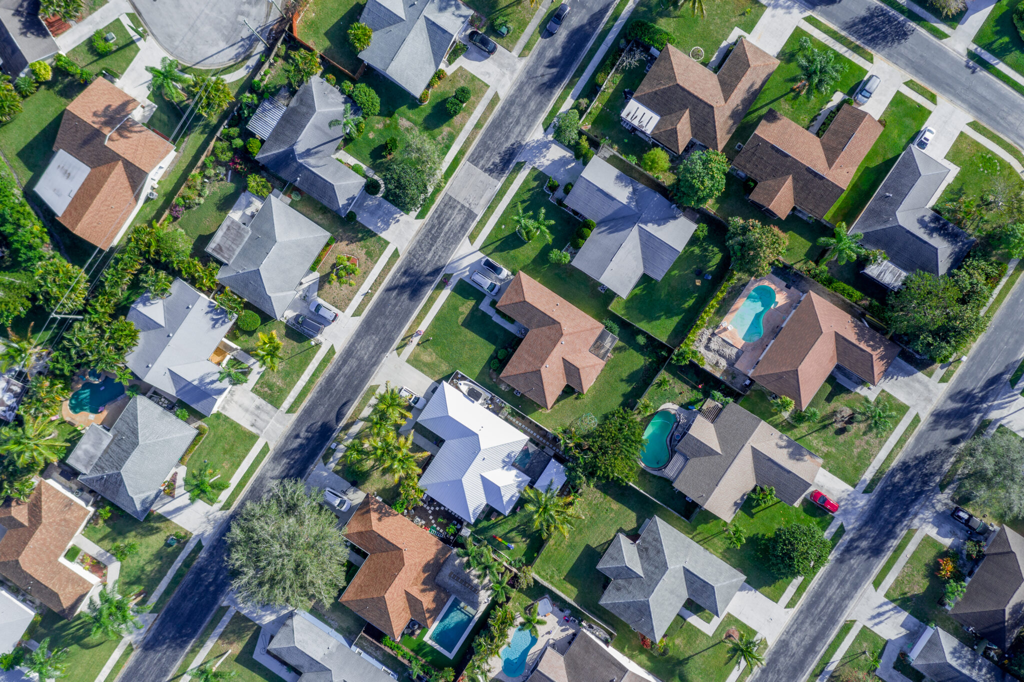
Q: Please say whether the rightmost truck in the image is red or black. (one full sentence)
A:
The rightmost truck looks black in the image.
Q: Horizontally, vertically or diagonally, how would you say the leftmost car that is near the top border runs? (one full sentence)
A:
From this overhead view, the leftmost car that is near the top border appears to run diagonally.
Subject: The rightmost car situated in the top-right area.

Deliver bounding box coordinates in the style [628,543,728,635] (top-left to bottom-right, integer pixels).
[912,123,937,153]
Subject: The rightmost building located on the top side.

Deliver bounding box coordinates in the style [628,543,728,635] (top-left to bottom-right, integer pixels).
[847,144,976,292]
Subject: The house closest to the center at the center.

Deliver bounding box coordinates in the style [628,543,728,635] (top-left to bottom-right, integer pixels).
[496,271,606,410]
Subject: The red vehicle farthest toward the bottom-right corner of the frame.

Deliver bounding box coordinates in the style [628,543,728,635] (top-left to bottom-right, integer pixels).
[808,487,840,511]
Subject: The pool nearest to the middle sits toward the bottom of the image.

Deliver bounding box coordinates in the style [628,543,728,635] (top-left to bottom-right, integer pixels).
[513,440,534,471]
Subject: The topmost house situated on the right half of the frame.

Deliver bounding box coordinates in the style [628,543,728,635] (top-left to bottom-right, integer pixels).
[618,38,780,154]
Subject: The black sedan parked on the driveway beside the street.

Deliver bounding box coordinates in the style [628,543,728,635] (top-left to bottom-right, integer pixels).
[467,29,499,57]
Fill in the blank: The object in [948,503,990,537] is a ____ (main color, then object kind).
black truck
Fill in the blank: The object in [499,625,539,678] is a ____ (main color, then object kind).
blue swimming pool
